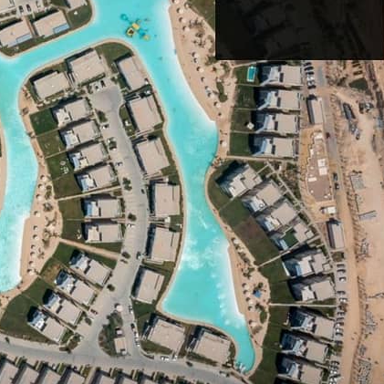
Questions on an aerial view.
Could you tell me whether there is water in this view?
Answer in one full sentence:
Yes, water can be seen from above here.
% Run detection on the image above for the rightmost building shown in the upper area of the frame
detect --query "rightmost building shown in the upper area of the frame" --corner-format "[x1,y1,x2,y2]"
[305,99,323,125]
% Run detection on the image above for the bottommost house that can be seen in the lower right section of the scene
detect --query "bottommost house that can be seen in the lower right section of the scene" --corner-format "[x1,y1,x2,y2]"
[278,359,323,384]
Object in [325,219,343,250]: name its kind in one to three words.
building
